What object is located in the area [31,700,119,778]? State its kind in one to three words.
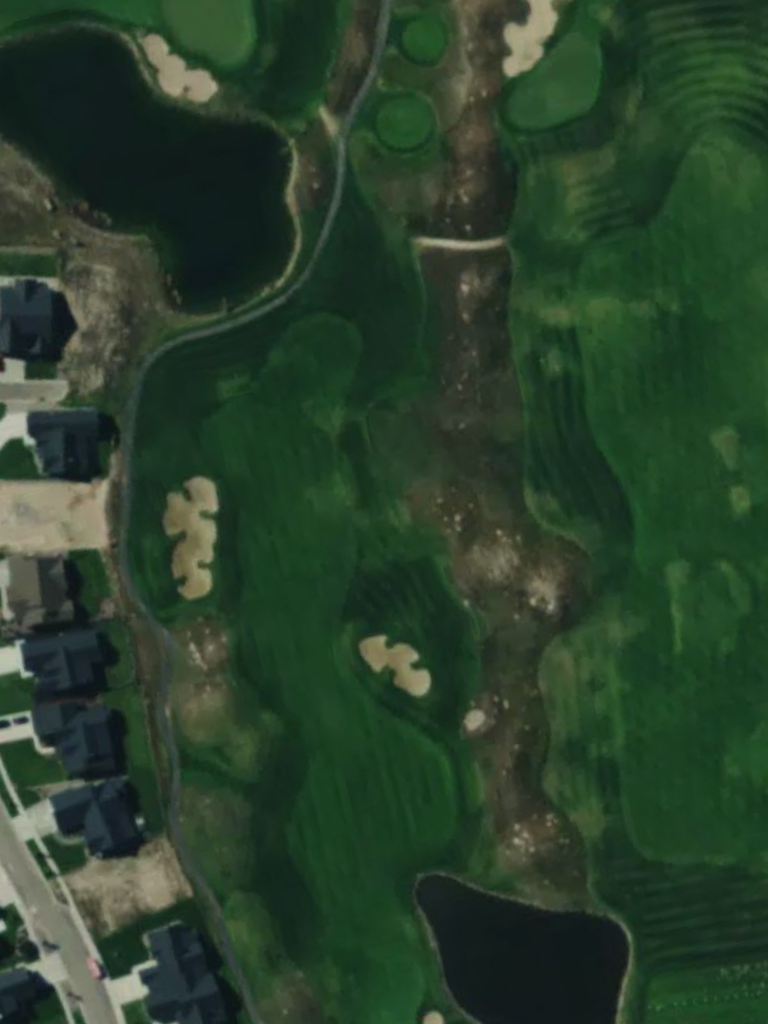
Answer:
house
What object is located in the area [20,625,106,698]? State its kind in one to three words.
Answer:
house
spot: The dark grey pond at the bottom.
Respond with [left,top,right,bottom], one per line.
[416,874,630,1024]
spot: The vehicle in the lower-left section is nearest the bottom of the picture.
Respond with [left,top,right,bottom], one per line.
[86,956,102,978]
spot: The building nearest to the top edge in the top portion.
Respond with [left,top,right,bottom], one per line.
[0,278,56,359]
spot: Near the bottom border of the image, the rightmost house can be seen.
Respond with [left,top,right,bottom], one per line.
[137,921,224,1024]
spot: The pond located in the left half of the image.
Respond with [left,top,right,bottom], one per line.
[0,26,296,313]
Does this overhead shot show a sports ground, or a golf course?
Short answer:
golf course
